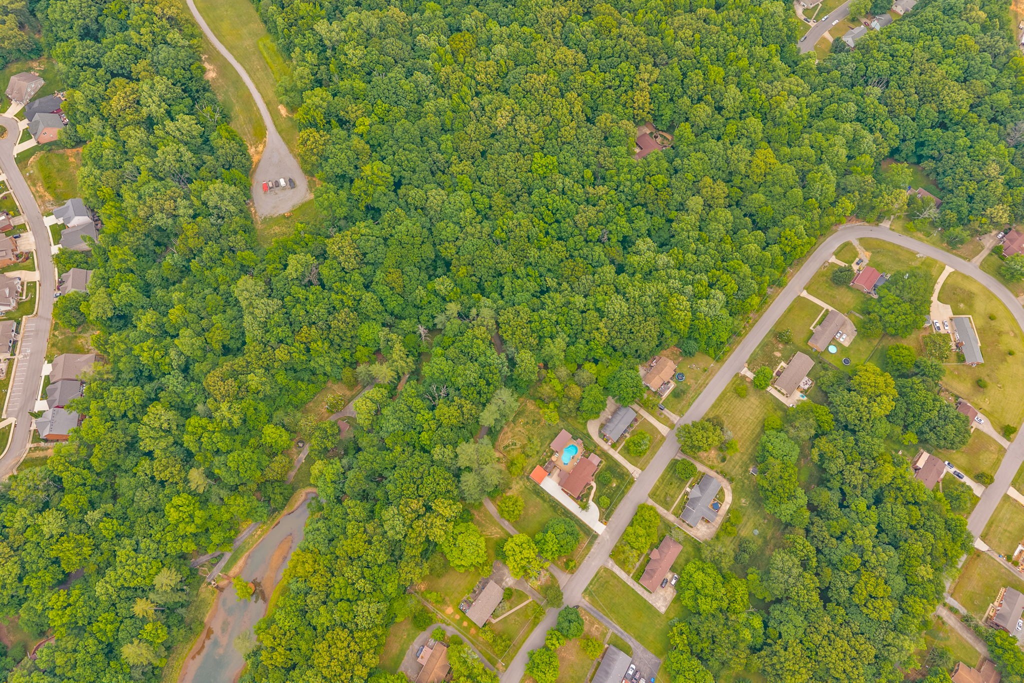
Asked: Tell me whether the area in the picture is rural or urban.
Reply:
rural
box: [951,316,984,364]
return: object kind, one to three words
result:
house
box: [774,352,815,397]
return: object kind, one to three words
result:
house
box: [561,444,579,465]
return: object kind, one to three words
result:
swimming pool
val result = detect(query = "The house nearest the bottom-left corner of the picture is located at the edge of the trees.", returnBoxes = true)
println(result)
[35,409,80,436]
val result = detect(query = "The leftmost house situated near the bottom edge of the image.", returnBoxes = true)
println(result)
[414,640,452,683]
